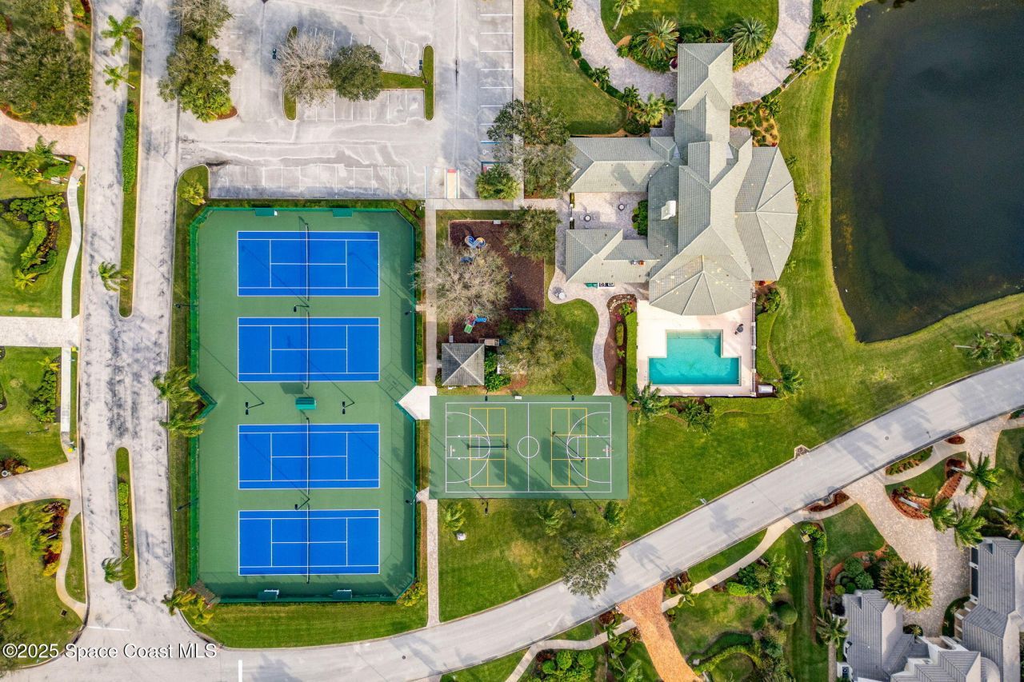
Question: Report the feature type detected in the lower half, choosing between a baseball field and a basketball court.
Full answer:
The one visible in the lower half is a basketball court.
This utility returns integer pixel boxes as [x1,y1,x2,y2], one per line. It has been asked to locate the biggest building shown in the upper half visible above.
[562,43,798,315]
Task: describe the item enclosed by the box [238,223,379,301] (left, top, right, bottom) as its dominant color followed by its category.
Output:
blue tennis court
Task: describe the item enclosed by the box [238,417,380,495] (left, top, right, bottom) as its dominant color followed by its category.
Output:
blue tennis court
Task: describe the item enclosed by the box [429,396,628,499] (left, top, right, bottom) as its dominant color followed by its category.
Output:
green basketball court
